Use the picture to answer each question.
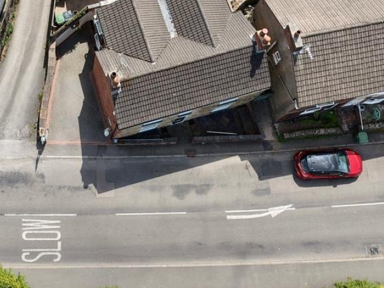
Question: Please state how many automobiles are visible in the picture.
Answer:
1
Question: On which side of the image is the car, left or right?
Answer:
right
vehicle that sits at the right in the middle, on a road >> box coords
[294,146,362,184]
